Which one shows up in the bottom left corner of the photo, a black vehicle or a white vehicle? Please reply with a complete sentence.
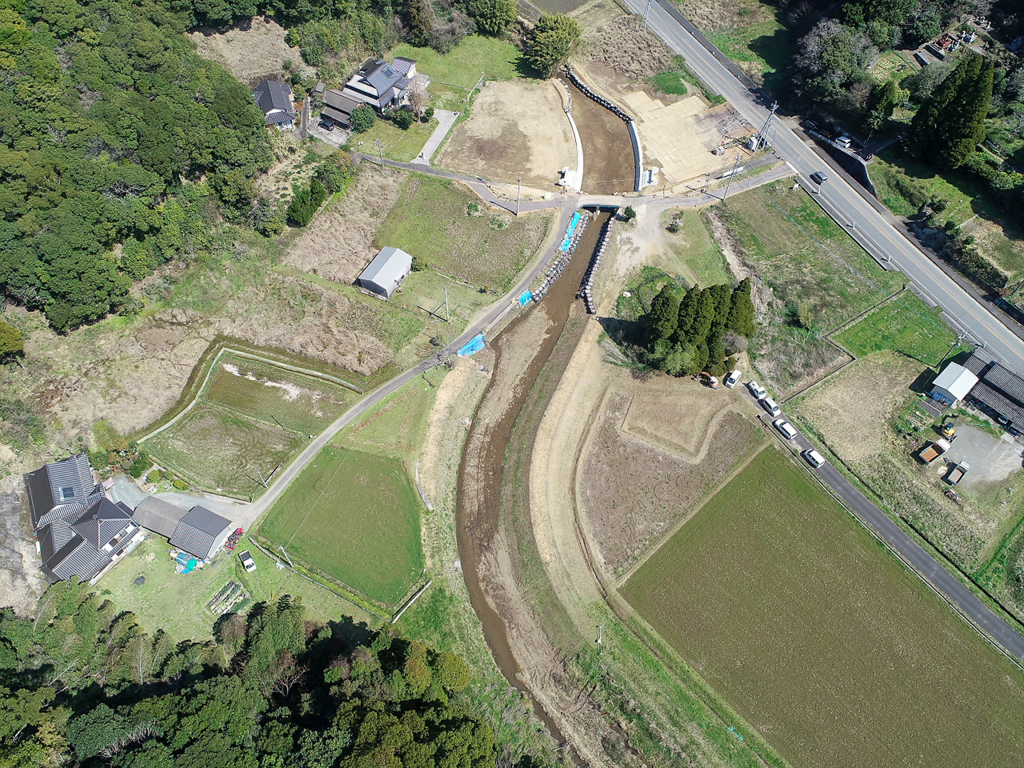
What appears in the bottom left corner of the photo is a white vehicle.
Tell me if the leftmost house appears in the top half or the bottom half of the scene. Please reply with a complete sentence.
It is in the bottom half that the leftmost house appears.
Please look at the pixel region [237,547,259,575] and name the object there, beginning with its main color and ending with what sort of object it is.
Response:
white truck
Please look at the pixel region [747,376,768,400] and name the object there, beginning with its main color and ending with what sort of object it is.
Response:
white truck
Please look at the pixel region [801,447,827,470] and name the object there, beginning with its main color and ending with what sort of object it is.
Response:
white vehicle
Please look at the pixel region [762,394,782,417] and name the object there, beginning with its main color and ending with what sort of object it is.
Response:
white vehicle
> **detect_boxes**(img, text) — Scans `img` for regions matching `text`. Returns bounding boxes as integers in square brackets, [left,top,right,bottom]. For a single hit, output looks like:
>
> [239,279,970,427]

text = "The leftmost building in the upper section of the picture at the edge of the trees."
[256,76,297,132]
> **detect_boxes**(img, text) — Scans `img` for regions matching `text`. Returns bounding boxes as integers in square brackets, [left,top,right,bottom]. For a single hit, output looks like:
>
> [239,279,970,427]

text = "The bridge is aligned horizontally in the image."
[577,194,631,218]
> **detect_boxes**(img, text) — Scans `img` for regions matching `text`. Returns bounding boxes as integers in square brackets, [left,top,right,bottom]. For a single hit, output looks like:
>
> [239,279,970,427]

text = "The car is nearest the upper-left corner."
[317,120,335,132]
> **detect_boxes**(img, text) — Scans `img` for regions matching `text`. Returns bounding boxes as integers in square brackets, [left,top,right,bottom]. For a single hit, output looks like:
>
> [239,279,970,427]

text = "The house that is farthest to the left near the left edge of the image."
[23,451,145,584]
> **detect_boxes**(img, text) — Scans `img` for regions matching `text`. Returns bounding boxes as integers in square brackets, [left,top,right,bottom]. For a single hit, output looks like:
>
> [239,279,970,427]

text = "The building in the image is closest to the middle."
[358,247,412,299]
